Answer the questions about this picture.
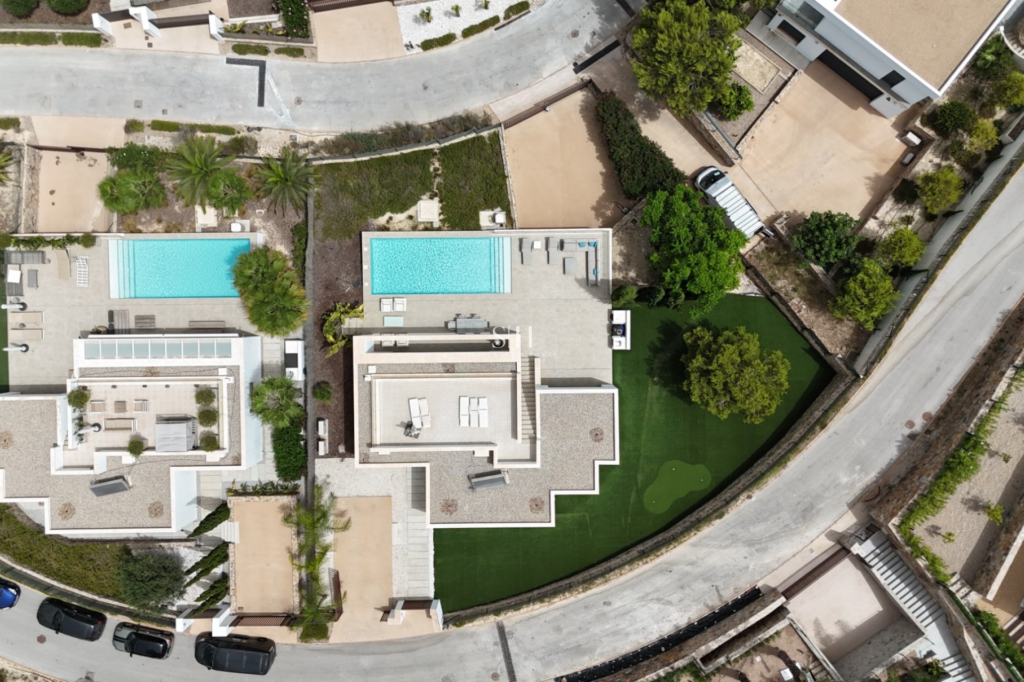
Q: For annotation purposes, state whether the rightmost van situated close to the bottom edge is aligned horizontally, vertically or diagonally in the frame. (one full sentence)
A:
The rightmost van situated close to the bottom edge has been laid out horizontally relative to the frame.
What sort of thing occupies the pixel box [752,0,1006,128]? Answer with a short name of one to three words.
house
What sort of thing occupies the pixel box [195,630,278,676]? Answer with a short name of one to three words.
van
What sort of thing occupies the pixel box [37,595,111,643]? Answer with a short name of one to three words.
car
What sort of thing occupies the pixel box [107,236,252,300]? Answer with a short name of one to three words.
swimming pool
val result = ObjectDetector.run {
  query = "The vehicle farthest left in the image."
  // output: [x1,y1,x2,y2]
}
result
[0,576,26,608]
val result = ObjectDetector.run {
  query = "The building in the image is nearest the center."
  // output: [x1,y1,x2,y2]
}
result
[354,333,619,528]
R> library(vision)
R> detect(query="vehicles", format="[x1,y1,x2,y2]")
[0,576,26,608]
[697,168,778,245]
[195,630,278,676]
[37,595,111,643]
[114,621,177,658]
